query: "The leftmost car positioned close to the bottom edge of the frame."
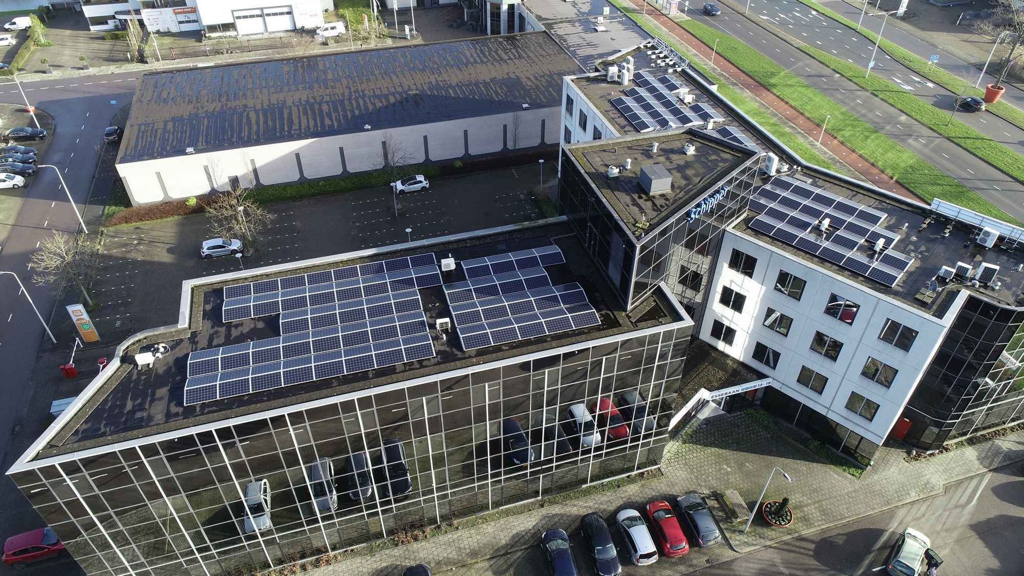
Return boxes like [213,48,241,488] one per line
[0,523,64,569]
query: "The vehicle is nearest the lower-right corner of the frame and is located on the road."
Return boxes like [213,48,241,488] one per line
[890,528,944,576]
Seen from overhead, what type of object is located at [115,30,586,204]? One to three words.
building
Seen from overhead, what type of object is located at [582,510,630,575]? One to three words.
car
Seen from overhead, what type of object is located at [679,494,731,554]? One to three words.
car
